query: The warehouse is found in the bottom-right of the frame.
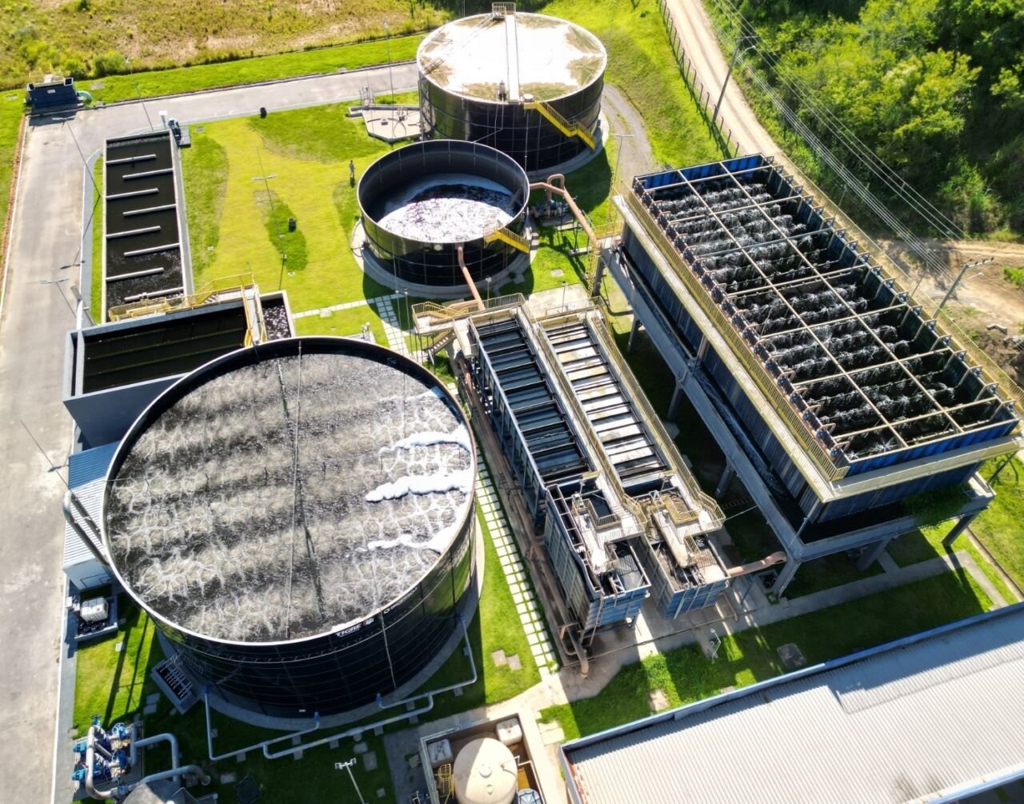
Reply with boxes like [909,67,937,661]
[553,601,1024,804]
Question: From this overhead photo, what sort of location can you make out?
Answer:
industrial area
